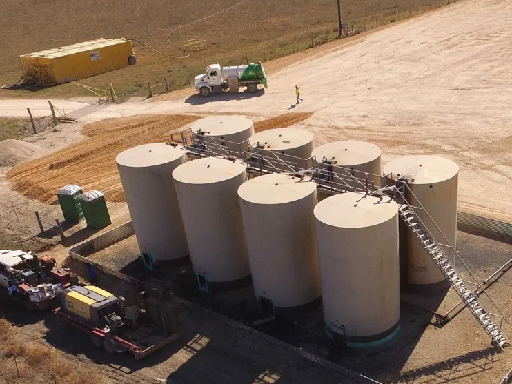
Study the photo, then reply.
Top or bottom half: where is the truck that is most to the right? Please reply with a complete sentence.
The truck that is most to the right is in the top half of the image.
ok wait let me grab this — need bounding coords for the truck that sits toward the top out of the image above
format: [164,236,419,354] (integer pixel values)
[190,57,274,96]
